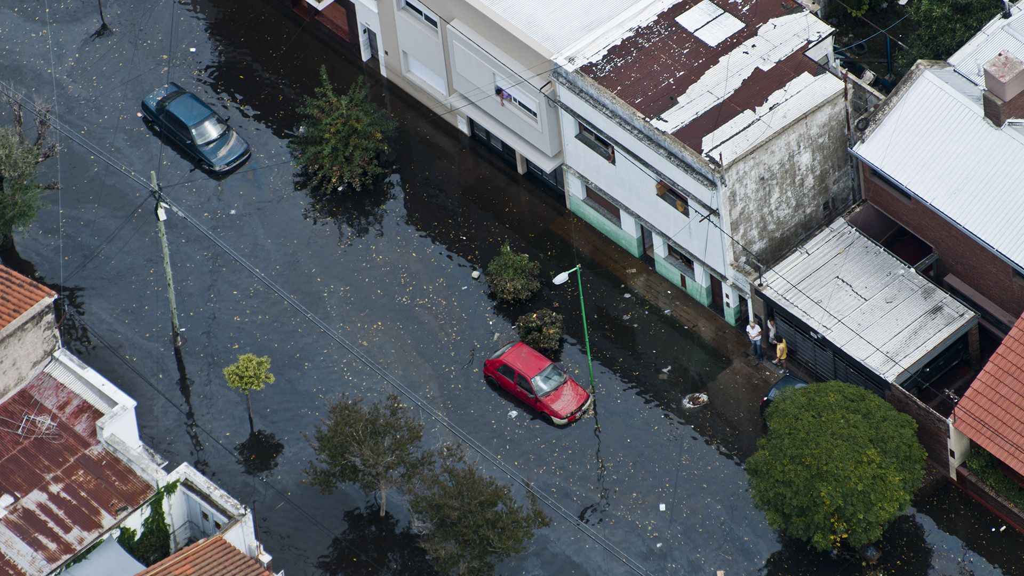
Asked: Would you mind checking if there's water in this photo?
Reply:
Yes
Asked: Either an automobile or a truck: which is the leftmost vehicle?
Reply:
automobile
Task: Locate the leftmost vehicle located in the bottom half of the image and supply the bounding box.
[483,344,592,425]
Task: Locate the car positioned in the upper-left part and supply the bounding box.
[141,84,251,173]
